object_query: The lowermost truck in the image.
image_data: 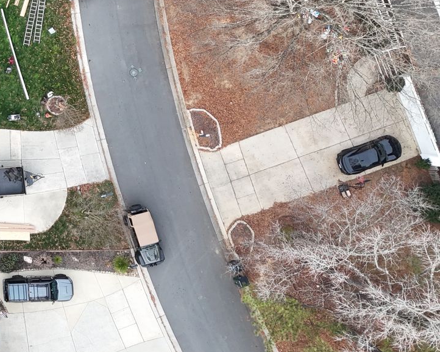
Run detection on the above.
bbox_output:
[3,277,78,307]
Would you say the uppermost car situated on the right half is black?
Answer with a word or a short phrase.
Yes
